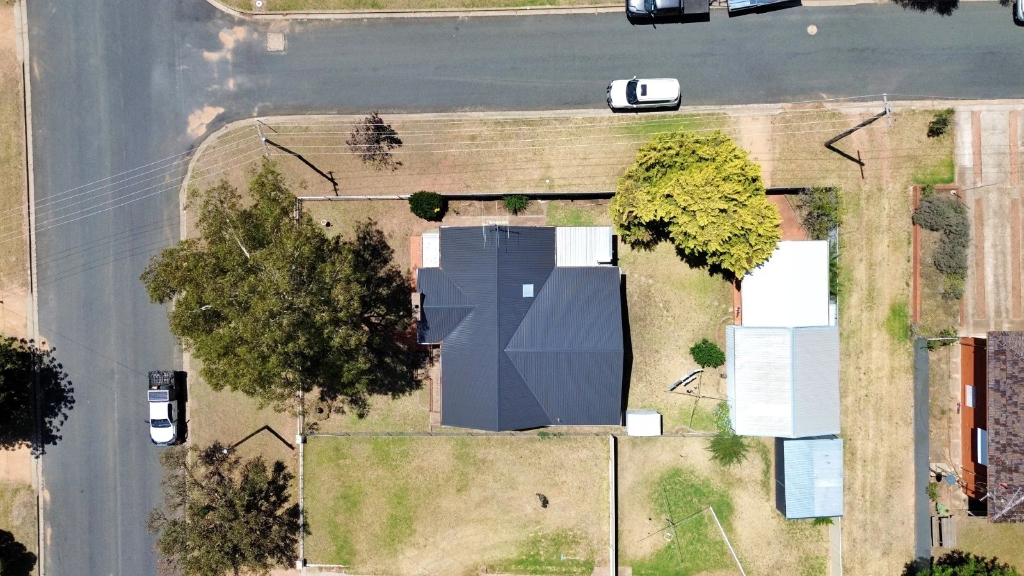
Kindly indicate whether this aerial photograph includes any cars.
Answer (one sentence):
Yes, this view includes a car.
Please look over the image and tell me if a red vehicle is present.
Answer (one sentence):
No, there isn't any red vehicle down there.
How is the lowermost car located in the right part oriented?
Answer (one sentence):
The lowermost car located in the right part has been laid out horizontally relative to the frame.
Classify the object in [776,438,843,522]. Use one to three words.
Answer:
shed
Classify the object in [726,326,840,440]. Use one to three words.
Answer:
shed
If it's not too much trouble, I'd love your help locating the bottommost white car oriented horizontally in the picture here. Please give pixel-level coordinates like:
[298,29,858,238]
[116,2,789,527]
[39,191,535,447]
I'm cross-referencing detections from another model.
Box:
[606,76,679,110]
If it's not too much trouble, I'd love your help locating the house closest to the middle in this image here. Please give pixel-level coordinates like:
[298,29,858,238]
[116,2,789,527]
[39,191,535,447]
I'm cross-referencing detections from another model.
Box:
[412,223,625,433]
